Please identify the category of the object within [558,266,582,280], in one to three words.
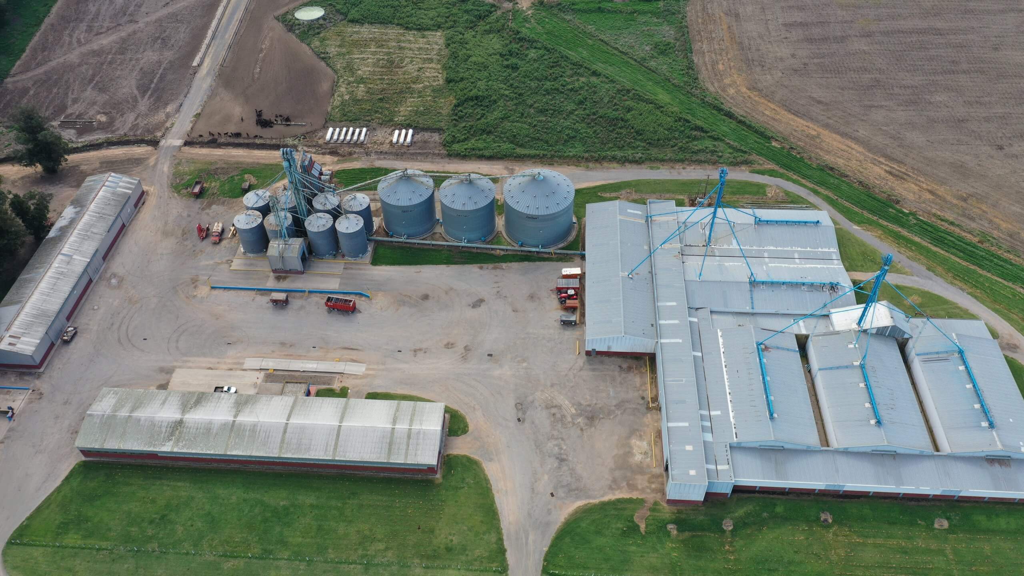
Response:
camper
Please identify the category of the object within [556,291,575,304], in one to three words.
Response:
vehicle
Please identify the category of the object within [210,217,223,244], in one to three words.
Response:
vehicle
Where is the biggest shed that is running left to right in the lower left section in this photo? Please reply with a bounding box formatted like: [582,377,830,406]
[75,387,451,478]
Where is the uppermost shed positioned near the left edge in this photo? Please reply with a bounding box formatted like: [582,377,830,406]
[0,172,149,373]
